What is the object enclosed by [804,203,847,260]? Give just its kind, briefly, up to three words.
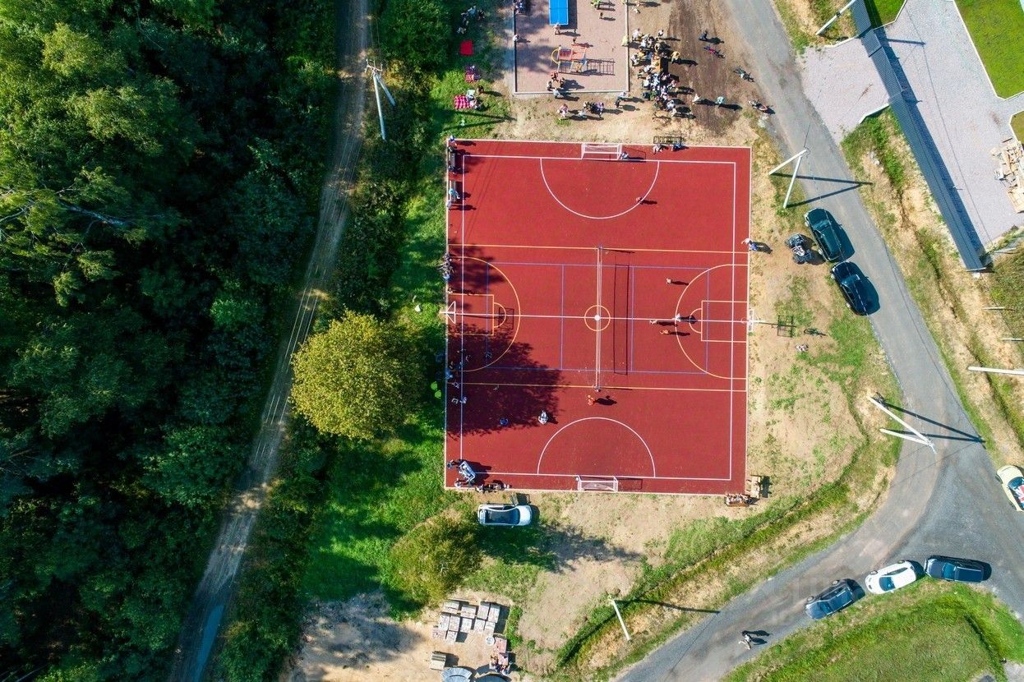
car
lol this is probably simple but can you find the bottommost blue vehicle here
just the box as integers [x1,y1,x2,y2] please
[806,580,860,623]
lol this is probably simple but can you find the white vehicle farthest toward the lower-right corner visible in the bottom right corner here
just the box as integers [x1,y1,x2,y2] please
[869,562,920,597]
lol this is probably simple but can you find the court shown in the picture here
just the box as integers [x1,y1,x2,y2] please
[442,137,753,498]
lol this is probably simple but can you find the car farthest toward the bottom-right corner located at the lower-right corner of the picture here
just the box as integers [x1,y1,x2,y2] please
[926,553,989,583]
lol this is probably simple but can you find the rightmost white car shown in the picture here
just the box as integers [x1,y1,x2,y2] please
[999,465,1024,513]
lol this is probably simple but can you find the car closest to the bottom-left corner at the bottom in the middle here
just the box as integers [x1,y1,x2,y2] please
[478,492,531,530]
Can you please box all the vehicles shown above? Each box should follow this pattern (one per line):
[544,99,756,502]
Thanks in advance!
[752,95,774,112]
[804,203,847,260]
[926,553,989,583]
[833,260,874,312]
[869,562,920,597]
[999,465,1024,513]
[788,233,811,261]
[478,492,531,530]
[806,580,860,623]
